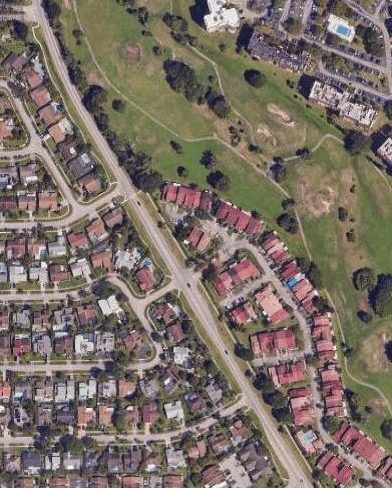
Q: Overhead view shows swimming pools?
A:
Yes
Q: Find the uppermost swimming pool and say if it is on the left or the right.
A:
right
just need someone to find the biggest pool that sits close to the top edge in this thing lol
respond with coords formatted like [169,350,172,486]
[328,15,355,43]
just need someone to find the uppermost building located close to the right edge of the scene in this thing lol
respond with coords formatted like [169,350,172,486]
[308,81,379,133]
